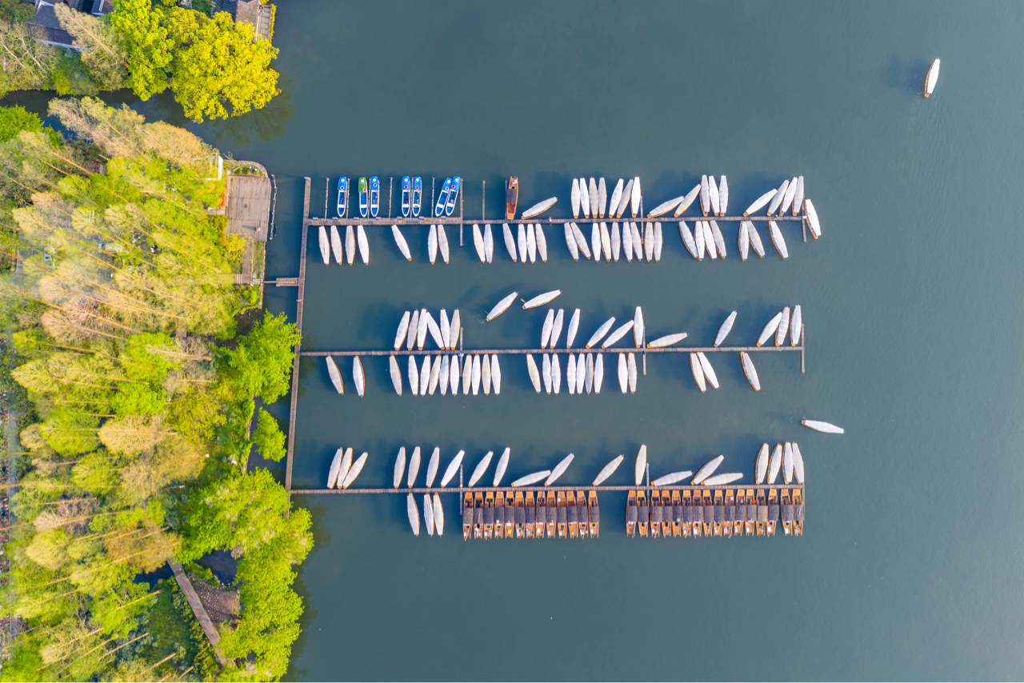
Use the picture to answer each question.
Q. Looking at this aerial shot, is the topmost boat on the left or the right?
right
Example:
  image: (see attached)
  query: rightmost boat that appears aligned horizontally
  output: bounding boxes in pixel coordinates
[798,412,845,433]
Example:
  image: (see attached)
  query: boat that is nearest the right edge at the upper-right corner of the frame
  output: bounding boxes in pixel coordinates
[915,56,940,100]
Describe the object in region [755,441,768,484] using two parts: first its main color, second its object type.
white boat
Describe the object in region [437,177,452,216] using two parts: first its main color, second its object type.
blue boat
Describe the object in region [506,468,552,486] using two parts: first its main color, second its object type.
white boat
